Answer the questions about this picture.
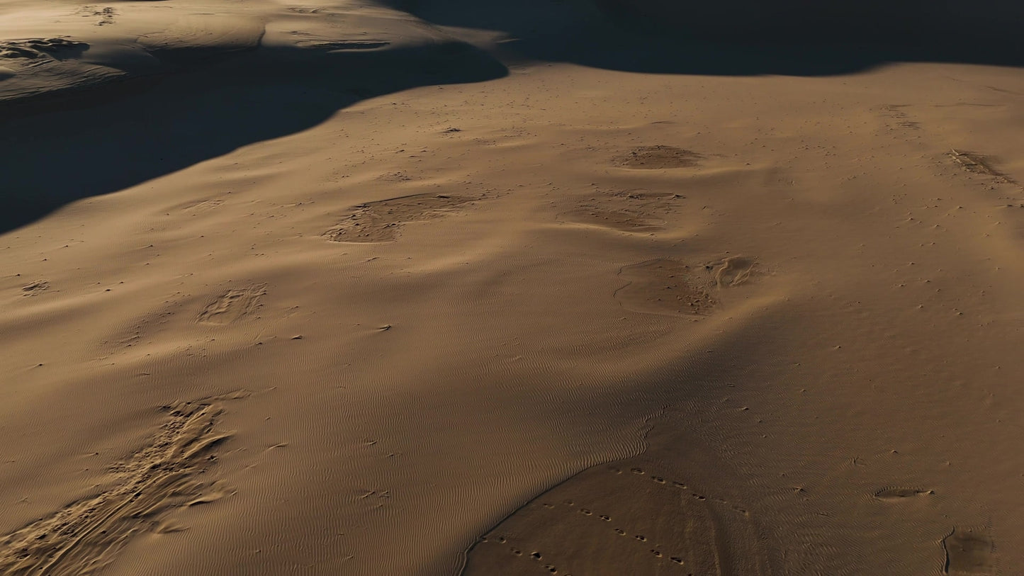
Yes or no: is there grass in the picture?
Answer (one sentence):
No, there is no grass in the image.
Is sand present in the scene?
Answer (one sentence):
Yes, there's sand in this view.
